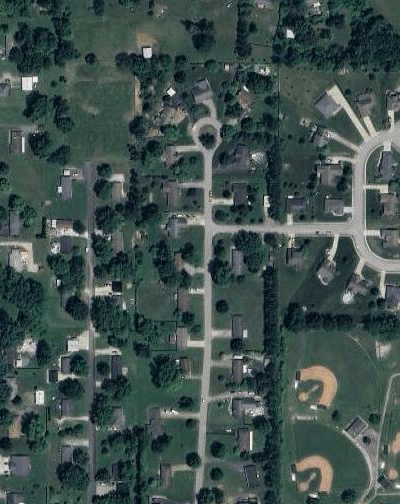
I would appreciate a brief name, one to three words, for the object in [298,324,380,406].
baseball field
